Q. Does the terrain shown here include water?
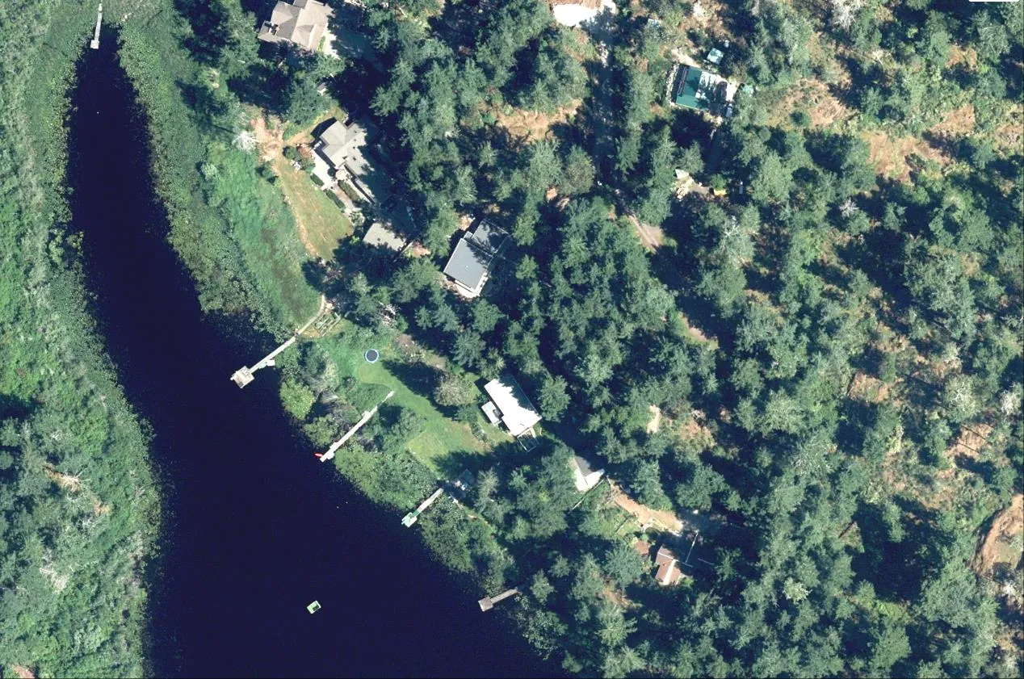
Yes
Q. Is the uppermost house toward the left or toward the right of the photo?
left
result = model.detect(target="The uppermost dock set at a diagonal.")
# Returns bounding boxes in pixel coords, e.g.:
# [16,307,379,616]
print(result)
[234,336,297,388]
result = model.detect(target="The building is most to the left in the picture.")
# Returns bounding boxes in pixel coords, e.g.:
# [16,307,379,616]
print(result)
[258,0,333,52]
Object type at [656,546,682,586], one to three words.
house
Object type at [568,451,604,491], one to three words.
house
